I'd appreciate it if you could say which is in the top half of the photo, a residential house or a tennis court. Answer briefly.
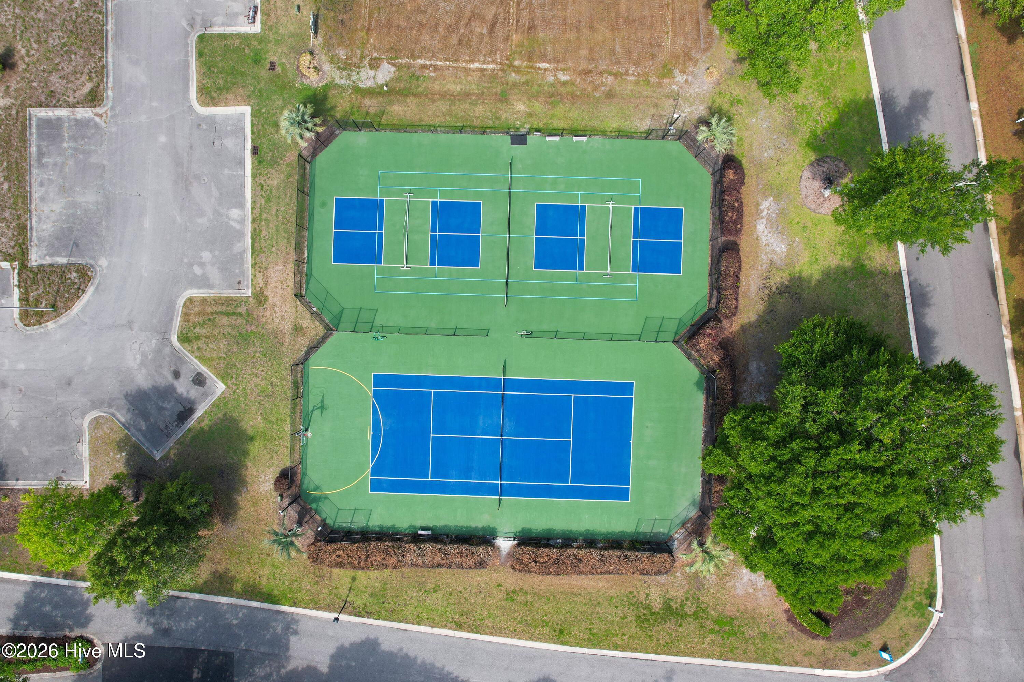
tennis court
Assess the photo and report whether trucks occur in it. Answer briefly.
No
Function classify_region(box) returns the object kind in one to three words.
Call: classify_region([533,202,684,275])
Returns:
sports court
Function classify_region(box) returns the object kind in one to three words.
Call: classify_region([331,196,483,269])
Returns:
sports court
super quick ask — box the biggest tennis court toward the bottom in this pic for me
[300,332,704,541]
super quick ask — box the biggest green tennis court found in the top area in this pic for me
[305,131,711,341]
